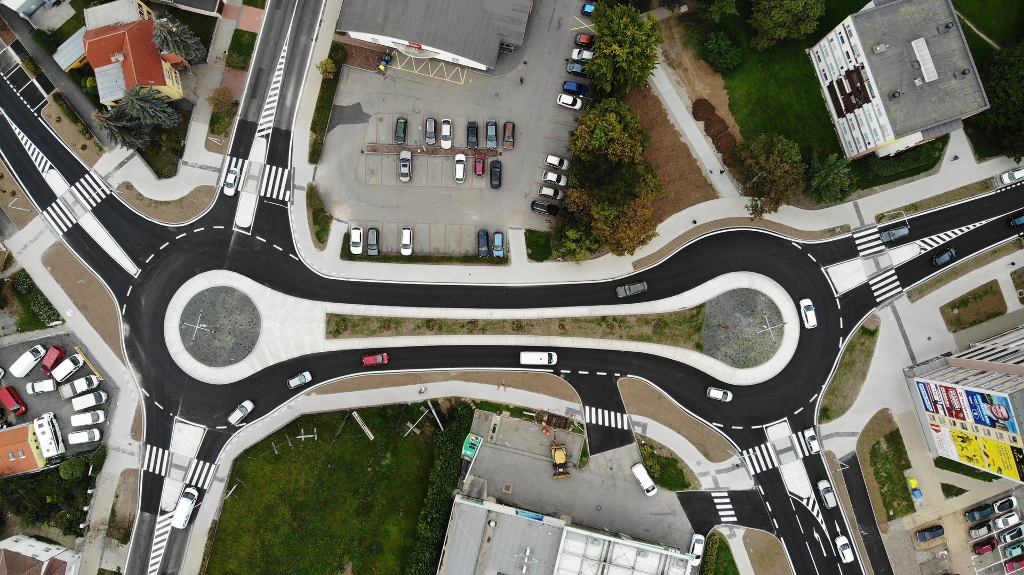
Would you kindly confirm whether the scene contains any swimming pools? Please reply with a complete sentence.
No, no swimming pool is visible in the view.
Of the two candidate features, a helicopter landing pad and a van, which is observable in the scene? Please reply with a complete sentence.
This aerial view contains a van.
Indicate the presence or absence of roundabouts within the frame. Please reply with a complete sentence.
Yes, this view includes a roundabout.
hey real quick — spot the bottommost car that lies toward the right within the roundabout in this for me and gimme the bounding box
[706,386,732,403]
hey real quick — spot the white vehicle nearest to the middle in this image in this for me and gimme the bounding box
[520,351,556,366]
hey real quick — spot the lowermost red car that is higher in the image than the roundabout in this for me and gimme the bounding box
[473,154,486,177]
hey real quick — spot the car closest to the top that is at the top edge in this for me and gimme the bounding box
[575,2,603,19]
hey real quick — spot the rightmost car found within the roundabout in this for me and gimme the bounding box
[799,299,816,328]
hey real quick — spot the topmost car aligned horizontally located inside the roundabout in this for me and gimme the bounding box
[616,281,647,298]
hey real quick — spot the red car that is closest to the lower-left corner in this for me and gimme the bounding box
[0,384,26,416]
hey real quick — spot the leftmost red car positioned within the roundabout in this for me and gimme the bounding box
[362,352,389,366]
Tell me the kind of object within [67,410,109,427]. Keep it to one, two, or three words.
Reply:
vehicle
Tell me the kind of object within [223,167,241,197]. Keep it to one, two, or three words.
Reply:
car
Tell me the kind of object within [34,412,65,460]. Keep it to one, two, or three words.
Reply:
camper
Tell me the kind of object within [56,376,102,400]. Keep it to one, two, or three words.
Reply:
truck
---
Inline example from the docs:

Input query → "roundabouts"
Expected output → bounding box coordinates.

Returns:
[121,226,842,429]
